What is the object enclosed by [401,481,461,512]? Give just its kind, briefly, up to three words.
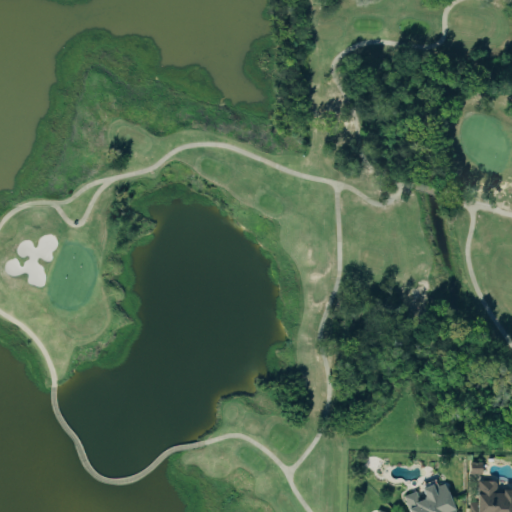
house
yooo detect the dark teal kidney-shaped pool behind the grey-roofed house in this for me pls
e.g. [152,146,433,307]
[391,467,420,486]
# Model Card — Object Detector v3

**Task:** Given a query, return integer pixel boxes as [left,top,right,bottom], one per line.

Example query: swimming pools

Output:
[491,465,512,478]
[391,467,420,486]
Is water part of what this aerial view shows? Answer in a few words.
Yes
